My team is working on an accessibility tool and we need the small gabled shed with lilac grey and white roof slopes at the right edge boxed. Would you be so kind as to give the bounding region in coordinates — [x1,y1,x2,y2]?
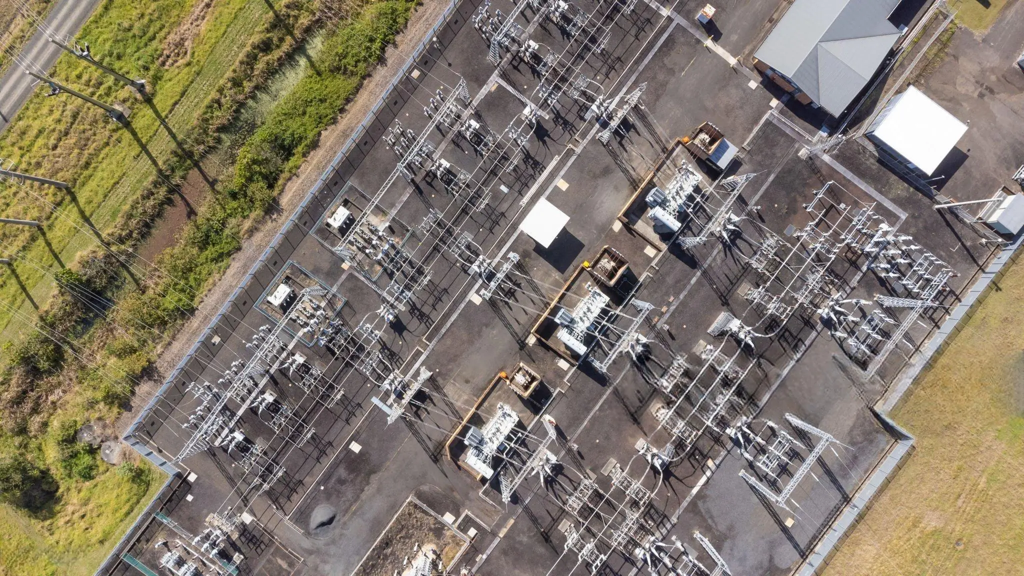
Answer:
[977,191,1024,235]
